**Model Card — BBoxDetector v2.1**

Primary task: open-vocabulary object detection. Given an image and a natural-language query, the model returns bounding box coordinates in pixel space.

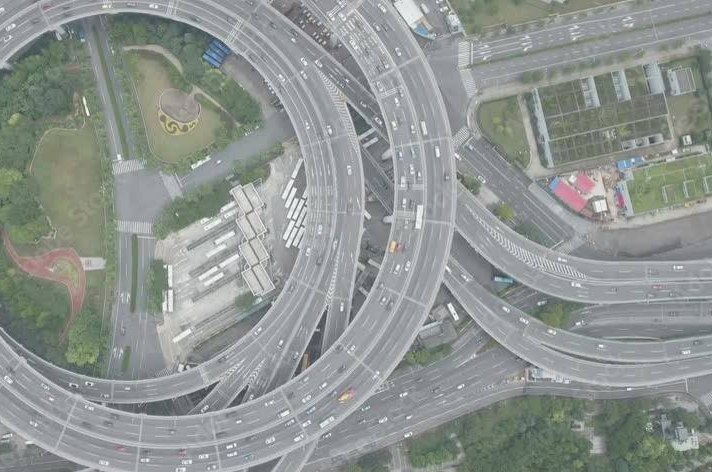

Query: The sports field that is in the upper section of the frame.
[630,153,712,213]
